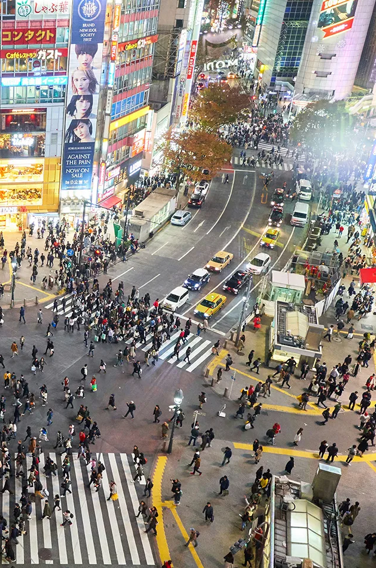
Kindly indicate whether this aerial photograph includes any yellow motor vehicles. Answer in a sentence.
Yes, this view includes a yellow motor vehicle.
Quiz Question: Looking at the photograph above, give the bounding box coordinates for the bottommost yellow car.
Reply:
[195,291,231,316]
